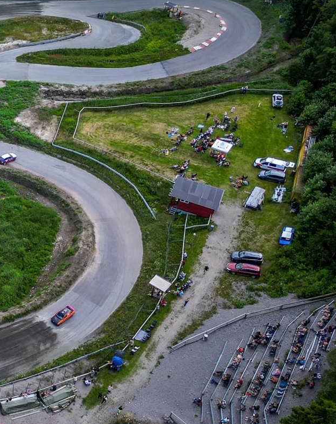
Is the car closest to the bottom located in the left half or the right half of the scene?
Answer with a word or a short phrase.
left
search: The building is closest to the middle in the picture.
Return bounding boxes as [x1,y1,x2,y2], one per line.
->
[154,173,221,221]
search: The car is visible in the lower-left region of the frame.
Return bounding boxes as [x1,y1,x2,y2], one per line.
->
[51,305,74,326]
